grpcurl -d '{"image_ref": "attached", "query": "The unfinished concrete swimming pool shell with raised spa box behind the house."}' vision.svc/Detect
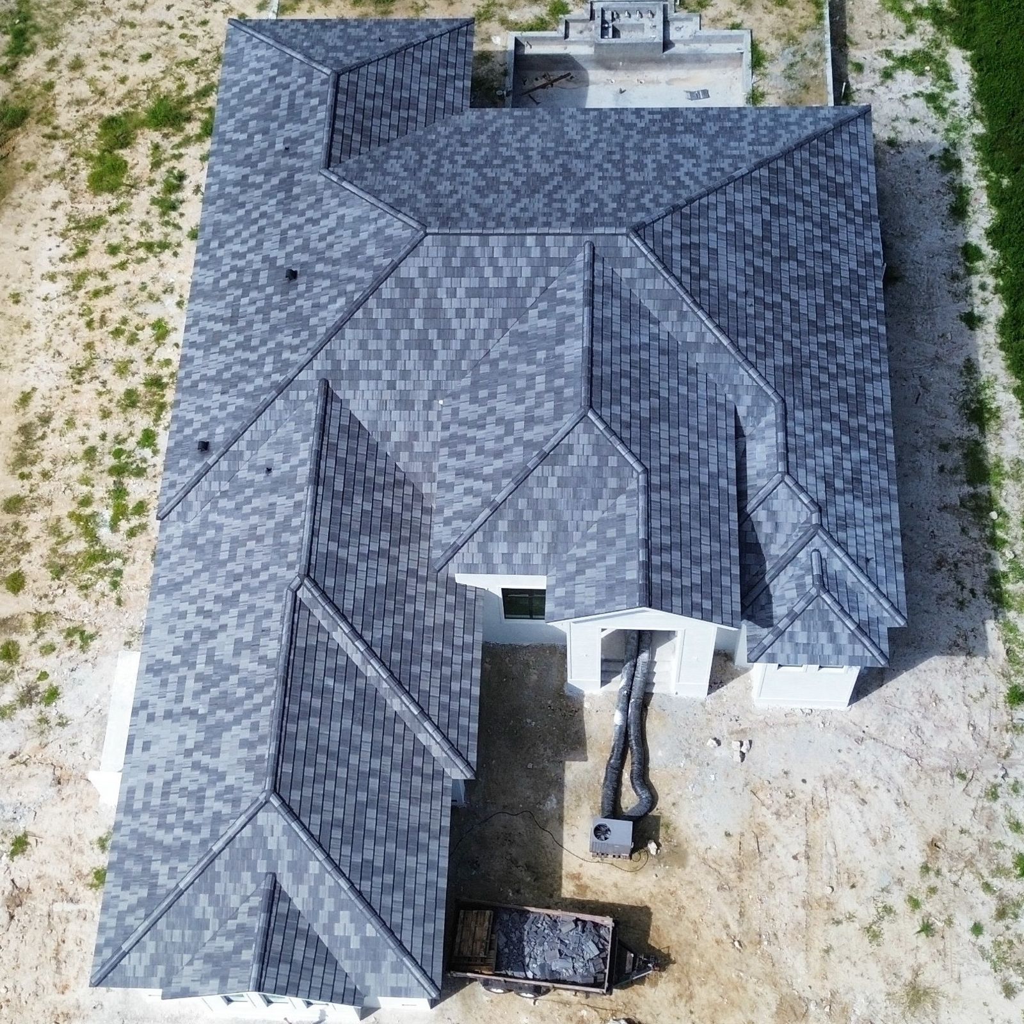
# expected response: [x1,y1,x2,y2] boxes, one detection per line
[505,0,754,106]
